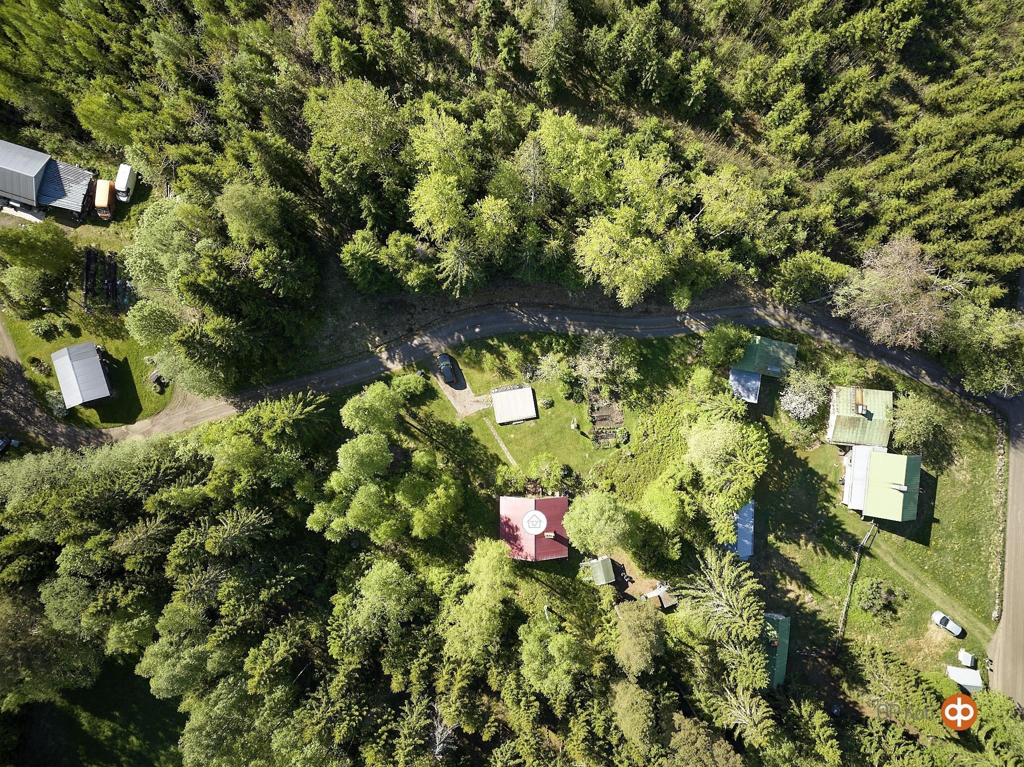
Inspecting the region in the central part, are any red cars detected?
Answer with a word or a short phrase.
No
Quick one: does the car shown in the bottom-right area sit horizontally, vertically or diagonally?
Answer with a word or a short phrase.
diagonally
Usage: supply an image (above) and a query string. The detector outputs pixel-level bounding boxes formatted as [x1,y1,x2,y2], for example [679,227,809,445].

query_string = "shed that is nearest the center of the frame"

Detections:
[492,387,536,426]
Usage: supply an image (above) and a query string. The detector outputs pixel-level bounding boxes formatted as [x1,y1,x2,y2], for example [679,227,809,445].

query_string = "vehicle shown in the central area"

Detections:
[437,353,455,386]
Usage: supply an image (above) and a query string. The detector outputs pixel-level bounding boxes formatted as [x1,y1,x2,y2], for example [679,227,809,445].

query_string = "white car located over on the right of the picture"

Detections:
[933,612,964,638]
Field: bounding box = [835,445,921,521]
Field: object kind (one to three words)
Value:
house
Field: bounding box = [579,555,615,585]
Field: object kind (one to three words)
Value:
shed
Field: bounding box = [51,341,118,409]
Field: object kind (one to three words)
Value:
shed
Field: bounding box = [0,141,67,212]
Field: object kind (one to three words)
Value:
barn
